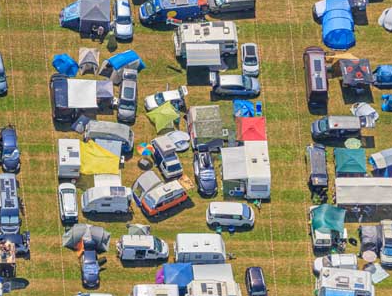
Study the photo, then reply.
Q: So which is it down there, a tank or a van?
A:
van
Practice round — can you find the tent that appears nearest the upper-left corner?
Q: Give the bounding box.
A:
[59,0,82,34]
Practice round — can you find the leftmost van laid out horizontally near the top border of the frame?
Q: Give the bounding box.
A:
[138,0,201,29]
